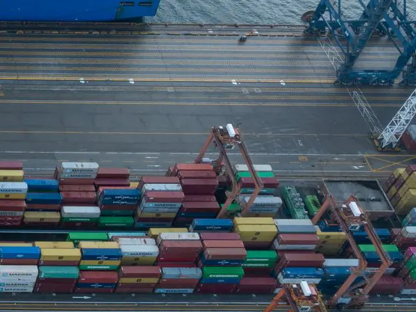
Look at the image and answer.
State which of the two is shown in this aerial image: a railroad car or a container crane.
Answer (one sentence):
The one in the frame is a container crane.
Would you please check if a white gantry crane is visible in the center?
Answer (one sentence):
No, no white gantry crane can be made out in the center.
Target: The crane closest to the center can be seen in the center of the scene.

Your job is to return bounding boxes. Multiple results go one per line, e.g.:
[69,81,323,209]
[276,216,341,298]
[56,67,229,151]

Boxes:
[194,122,268,220]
